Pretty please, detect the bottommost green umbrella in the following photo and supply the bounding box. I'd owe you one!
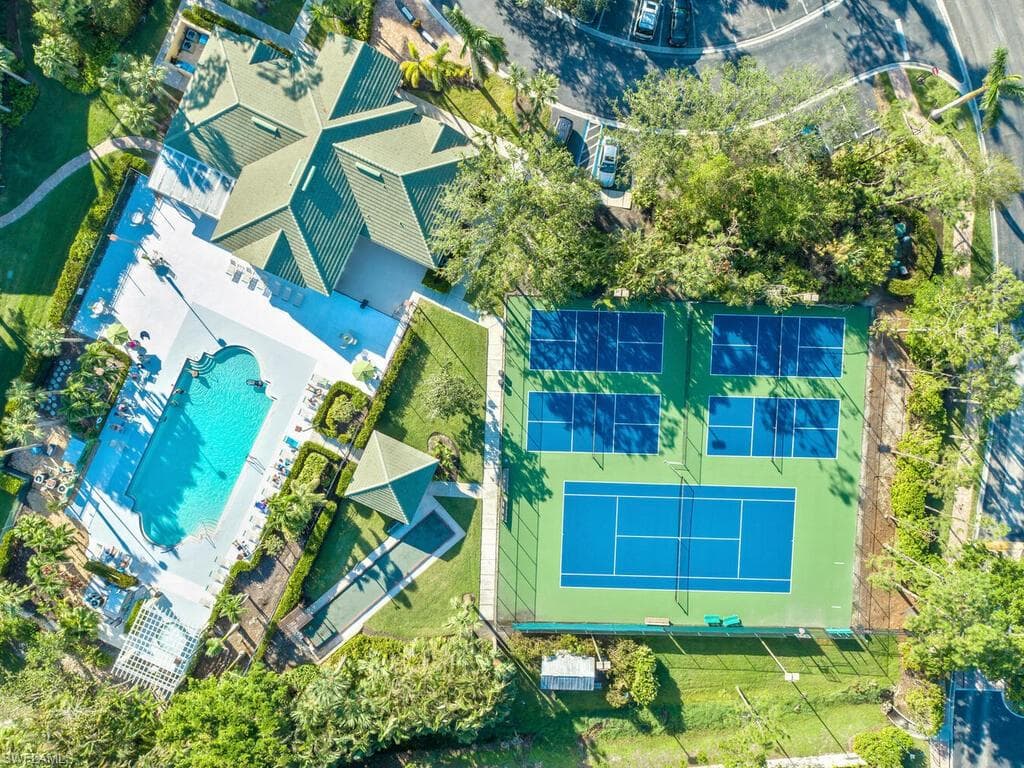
[353,358,378,383]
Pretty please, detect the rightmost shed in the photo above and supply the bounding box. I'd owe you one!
[541,650,595,690]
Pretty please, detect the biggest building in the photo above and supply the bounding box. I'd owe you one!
[164,26,480,295]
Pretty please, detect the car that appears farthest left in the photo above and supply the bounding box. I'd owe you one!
[552,105,577,153]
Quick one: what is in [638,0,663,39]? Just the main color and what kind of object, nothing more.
blue car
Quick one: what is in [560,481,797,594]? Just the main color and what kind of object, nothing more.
blue tennis court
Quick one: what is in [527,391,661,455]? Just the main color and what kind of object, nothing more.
blue sports court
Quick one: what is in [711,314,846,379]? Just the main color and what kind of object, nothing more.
blue sports court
